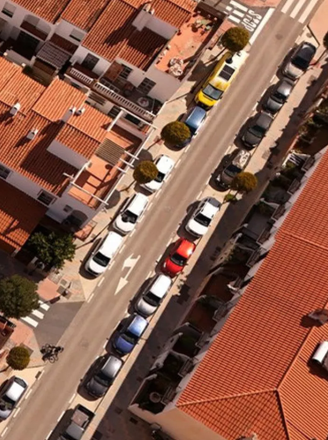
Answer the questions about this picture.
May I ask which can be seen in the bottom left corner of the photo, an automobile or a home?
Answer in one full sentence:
What appears in the bottom left corner of the photo is an automobile.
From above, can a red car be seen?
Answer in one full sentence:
Yes, looking at the shot, I can spot a red car.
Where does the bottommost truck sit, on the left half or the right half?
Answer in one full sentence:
It is on the left.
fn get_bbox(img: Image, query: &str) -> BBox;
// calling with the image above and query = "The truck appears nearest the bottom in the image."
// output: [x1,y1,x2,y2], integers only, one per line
[51,402,95,440]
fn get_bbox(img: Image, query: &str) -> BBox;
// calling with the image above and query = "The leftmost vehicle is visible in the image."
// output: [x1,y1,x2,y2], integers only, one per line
[0,373,27,425]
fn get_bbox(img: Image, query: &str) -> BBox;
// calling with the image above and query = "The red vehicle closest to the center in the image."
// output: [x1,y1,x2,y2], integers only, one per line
[161,237,196,280]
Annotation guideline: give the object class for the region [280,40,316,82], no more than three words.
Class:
car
